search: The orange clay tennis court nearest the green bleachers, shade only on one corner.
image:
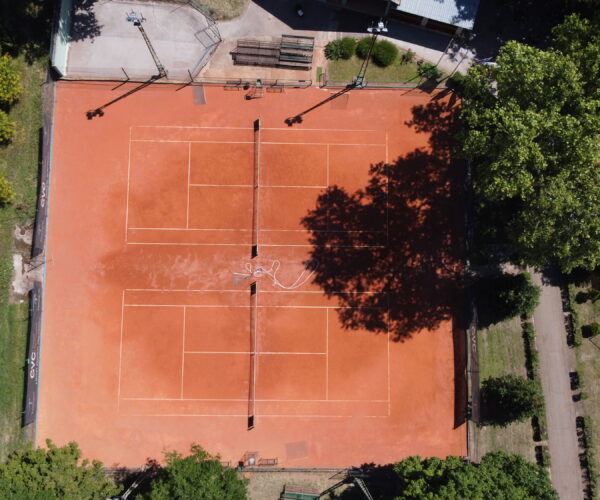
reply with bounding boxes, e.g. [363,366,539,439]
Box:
[118,290,390,417]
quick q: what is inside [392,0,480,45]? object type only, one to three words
building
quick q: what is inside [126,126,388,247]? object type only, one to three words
tennis court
